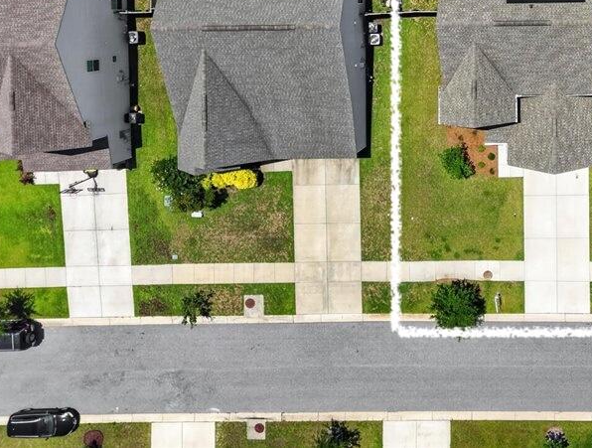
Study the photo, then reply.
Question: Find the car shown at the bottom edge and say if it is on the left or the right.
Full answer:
The car shown at the bottom edge sits on the left side.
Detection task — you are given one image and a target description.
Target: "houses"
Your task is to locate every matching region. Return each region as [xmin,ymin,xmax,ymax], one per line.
[437,0,592,169]
[156,0,366,175]
[0,0,131,170]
